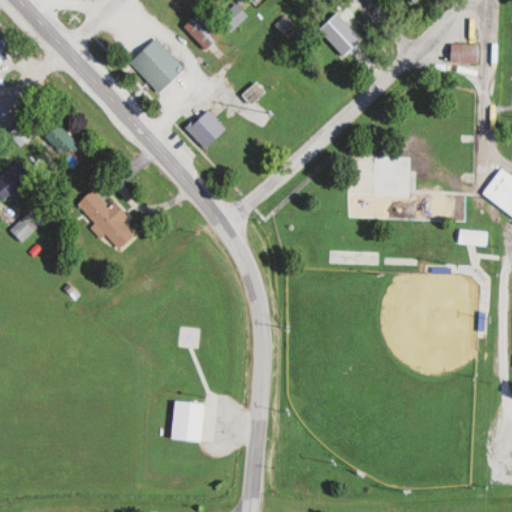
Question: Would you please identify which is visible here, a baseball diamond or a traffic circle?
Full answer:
There is a baseball diamond in the scene.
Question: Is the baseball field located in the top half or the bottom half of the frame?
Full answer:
The bottom half of the photo is where the baseball field is.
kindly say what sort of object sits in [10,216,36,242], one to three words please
shed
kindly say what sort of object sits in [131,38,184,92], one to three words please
building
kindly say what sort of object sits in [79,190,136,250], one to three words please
house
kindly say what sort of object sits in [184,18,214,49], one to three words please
house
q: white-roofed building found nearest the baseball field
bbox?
[458,228,490,248]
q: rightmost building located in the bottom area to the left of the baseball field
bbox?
[170,401,204,442]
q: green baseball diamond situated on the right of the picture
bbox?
[287,270,480,487]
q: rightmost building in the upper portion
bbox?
[483,168,512,216]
